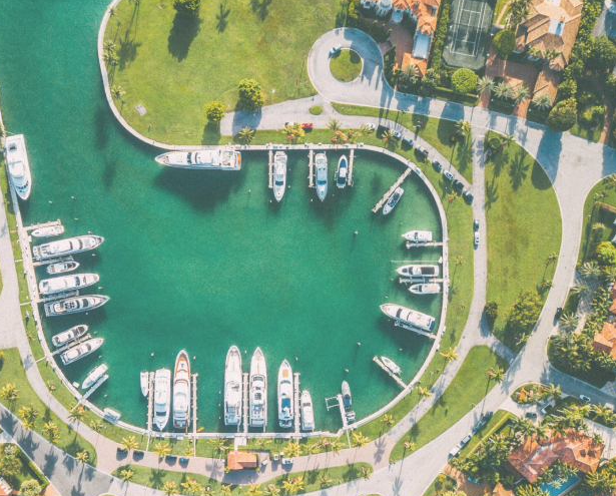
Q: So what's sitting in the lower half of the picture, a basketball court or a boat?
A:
boat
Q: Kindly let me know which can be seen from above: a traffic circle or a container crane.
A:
traffic circle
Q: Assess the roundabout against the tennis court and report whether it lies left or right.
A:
on the left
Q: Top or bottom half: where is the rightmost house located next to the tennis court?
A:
top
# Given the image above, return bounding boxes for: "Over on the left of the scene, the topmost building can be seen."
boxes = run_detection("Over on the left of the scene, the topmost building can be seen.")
[227,449,257,470]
